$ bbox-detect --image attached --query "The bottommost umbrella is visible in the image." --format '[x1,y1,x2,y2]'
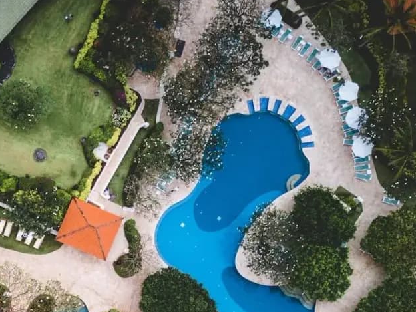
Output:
[352,136,372,156]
